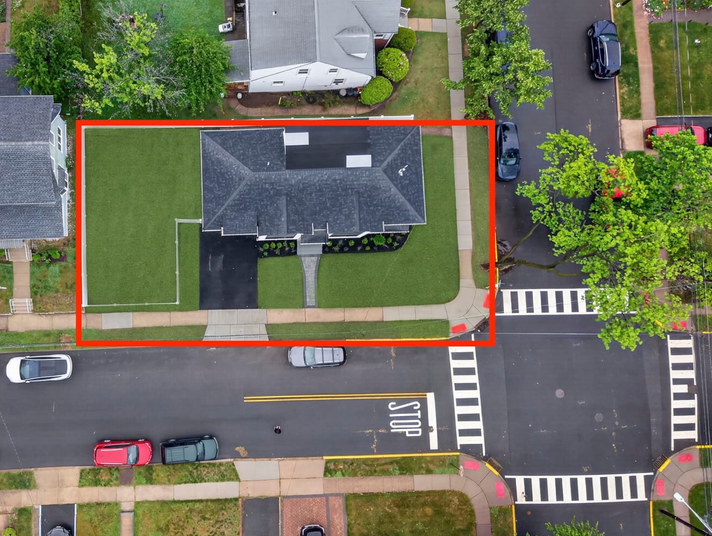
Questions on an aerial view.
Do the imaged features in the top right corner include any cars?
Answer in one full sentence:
Yes, a car shows up in the top right corner.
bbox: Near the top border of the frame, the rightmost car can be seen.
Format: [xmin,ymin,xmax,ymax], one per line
[584,17,625,82]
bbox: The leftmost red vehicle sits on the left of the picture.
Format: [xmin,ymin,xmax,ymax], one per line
[92,438,156,469]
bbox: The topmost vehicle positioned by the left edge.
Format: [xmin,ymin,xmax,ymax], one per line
[5,354,74,384]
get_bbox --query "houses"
[224,0,401,98]
[0,52,76,261]
[199,123,428,255]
